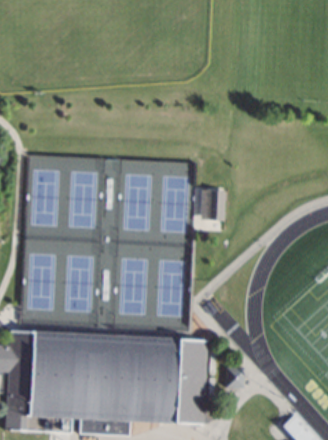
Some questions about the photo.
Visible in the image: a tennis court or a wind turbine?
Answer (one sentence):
The image shows a tennis court.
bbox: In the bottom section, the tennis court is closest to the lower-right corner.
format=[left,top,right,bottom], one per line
[156,260,185,318]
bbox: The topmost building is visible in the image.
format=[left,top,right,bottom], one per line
[194,188,226,232]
